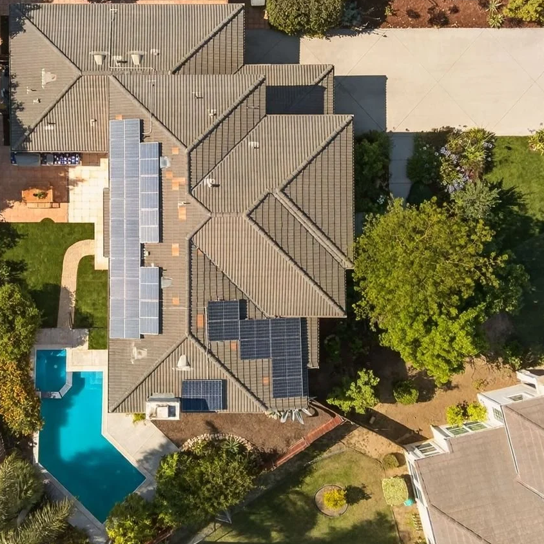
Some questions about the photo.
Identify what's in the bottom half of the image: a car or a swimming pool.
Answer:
swimming pool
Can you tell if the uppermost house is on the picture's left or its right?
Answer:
left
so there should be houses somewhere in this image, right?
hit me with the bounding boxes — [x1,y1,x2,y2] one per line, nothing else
[9,2,355,422]
[406,367,544,544]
